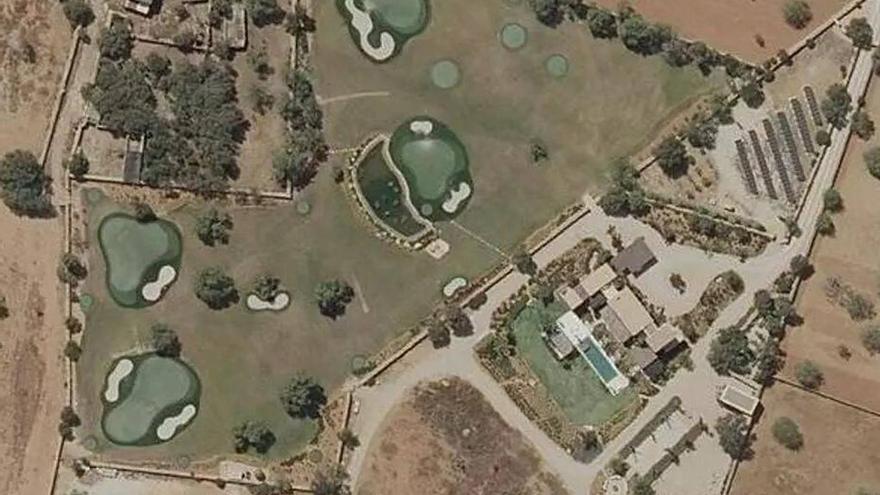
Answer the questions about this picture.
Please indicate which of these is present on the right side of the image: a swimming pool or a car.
swimming pool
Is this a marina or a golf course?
golf course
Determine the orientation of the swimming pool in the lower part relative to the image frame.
diagonally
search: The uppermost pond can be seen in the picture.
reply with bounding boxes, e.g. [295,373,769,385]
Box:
[351,136,434,242]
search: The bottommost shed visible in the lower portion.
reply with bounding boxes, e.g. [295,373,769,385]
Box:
[720,384,761,416]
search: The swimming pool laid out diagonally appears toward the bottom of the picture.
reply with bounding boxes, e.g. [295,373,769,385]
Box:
[557,311,629,394]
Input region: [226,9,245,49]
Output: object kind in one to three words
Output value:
building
